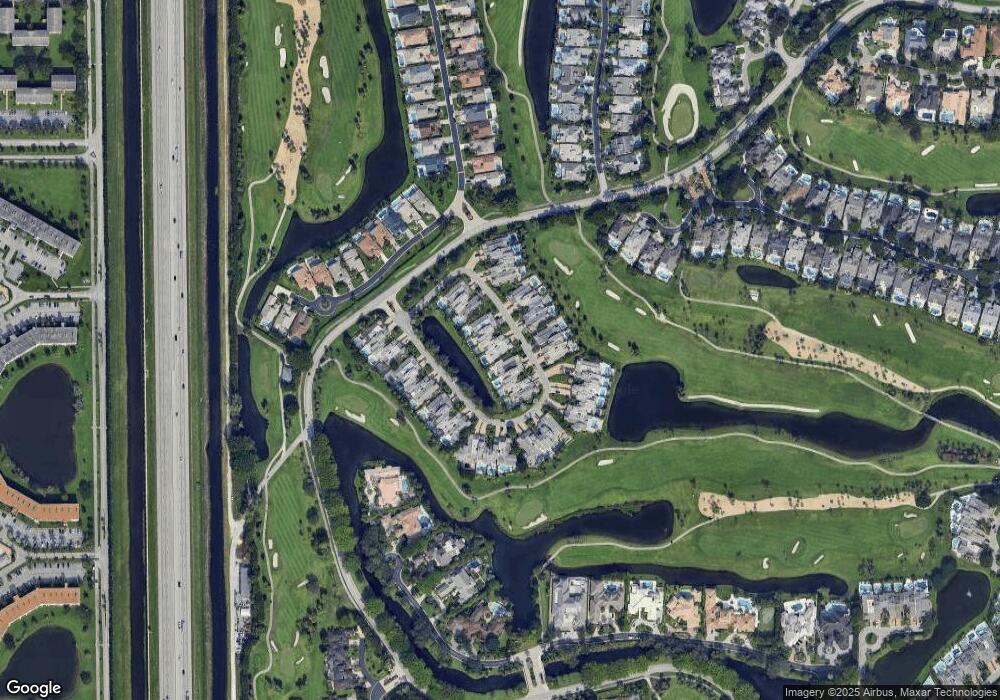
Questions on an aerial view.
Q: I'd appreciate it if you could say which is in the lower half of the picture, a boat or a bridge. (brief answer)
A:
bridge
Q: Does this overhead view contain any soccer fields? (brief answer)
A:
No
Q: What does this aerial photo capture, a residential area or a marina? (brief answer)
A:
residential area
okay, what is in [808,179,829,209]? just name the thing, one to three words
house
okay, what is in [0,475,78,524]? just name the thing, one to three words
building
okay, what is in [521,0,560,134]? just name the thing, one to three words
pond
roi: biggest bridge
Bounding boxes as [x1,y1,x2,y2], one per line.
[512,644,551,695]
